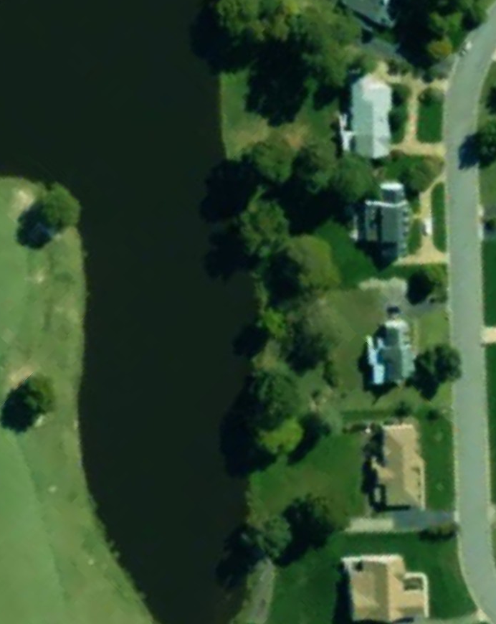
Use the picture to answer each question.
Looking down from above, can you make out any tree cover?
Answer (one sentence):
Yes, some tree cover is visible.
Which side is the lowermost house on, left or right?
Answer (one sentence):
It is on the right.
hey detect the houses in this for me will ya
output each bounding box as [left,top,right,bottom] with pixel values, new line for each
[353,180,410,259]
[345,556,430,624]
[337,73,394,158]
[371,421,431,510]
[337,0,399,34]
[369,319,415,385]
